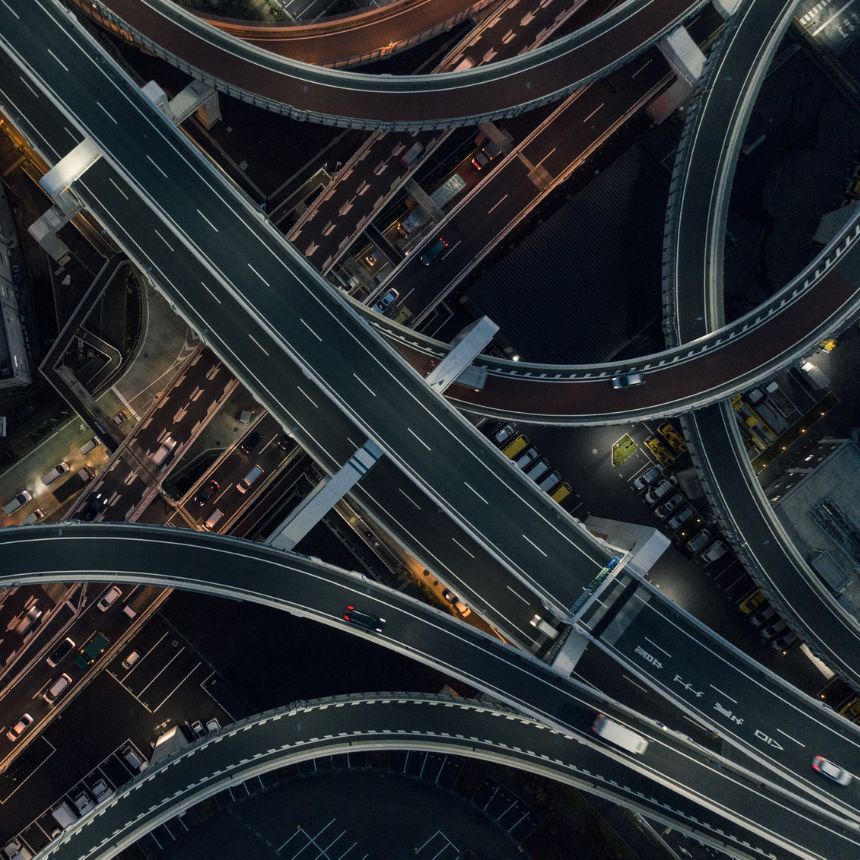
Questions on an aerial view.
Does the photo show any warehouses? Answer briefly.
Yes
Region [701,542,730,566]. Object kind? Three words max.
car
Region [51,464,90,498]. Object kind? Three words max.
truck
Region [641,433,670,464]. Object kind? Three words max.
work vehicle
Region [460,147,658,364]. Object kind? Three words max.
warehouse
